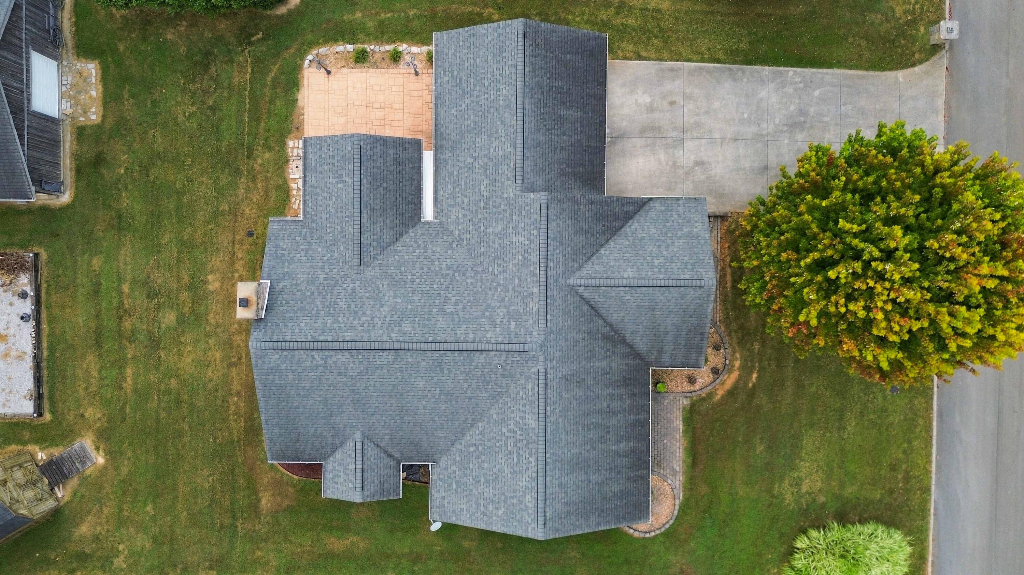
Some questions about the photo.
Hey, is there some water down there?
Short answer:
No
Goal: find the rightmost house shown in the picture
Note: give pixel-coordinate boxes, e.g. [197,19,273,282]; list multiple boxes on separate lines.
[237,18,716,539]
